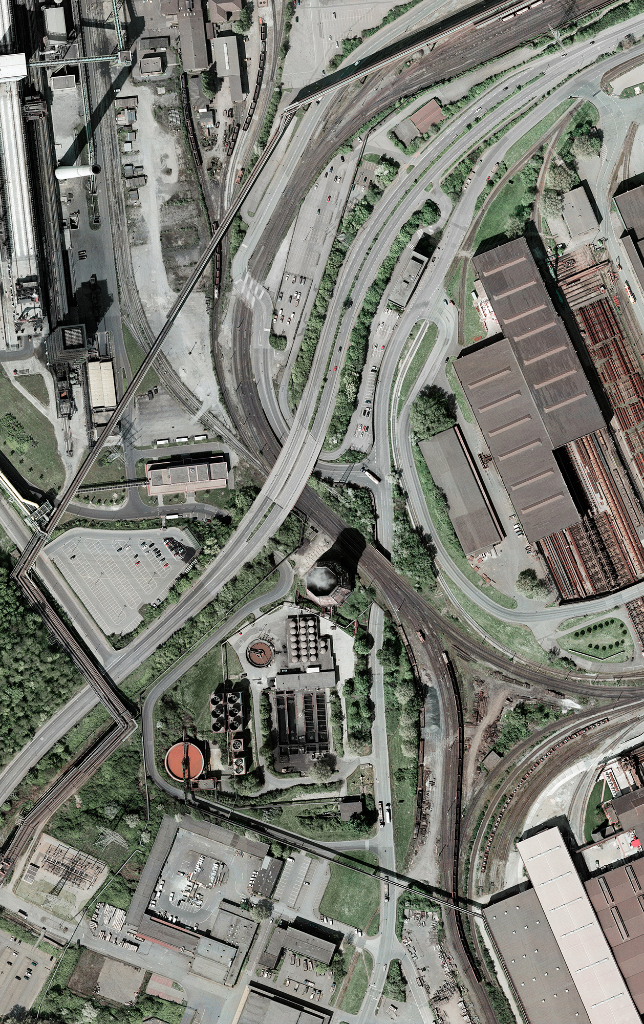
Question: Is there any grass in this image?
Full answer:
Yes, some grass is visible.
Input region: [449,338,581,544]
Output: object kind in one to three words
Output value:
building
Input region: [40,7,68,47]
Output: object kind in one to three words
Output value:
house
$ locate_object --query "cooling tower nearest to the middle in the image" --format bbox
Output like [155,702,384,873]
[299,558,350,613]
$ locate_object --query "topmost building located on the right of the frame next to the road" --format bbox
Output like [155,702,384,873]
[409,99,447,135]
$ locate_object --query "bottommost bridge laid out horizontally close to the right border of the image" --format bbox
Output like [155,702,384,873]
[527,580,644,620]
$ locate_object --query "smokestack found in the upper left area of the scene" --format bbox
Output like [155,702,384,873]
[52,159,86,179]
